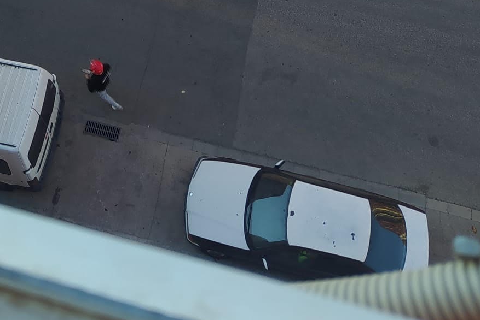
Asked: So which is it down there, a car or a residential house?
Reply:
car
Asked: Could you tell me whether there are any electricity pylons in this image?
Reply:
No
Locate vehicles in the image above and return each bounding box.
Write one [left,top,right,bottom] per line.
[0,64,71,188]
[174,151,432,282]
